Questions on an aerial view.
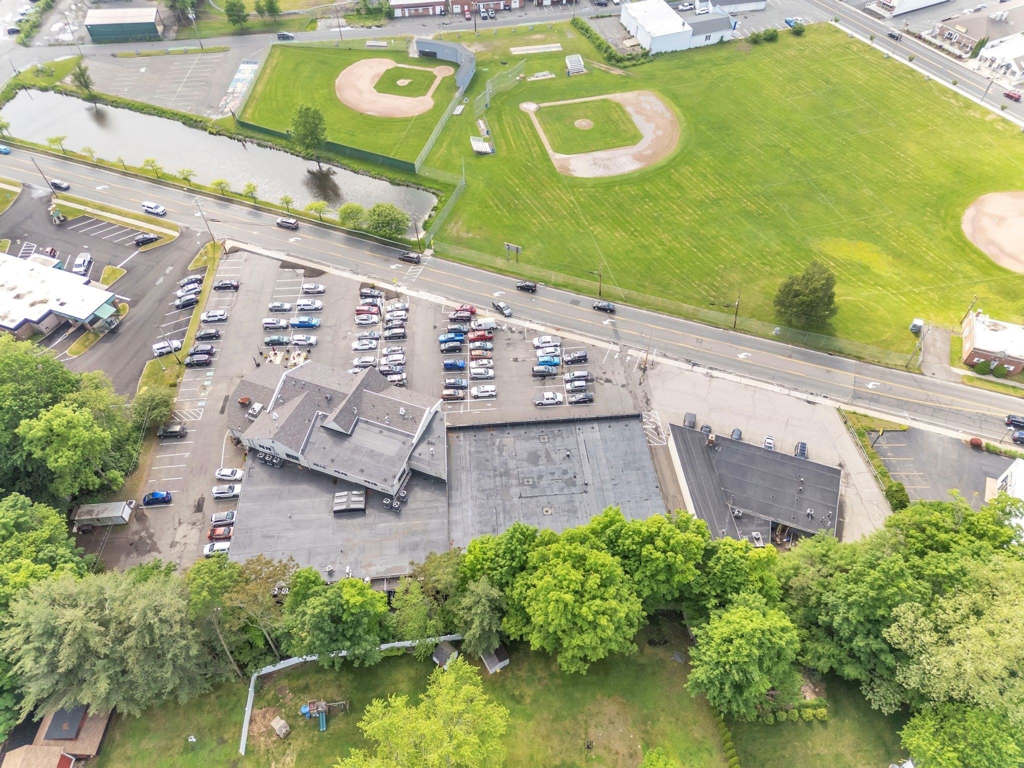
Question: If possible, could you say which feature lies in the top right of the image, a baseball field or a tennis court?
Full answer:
What appears in the top right of the image is a baseball field.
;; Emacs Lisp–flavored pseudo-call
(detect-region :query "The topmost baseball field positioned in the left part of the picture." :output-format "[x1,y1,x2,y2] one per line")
[240,45,461,173]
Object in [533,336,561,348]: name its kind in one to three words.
vehicle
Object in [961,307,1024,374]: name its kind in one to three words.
building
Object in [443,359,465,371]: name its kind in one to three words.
vehicle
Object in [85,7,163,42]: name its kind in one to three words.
barn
